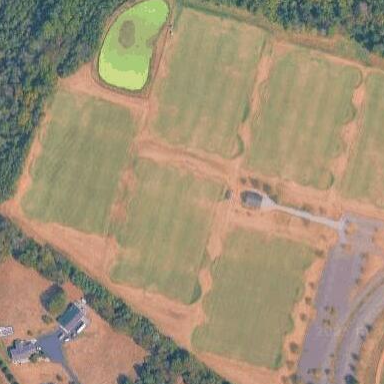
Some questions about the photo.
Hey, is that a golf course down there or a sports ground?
sports ground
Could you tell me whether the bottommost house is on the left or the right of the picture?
left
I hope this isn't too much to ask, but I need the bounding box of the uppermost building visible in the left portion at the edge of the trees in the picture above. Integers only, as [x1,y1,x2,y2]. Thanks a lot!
[54,306,84,334]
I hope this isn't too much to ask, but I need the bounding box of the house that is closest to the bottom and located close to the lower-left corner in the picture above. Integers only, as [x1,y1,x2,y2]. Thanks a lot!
[7,337,36,365]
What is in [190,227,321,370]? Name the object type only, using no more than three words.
soccer field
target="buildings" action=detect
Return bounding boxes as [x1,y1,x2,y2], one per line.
[7,337,36,365]
[54,306,84,334]
[242,192,264,208]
